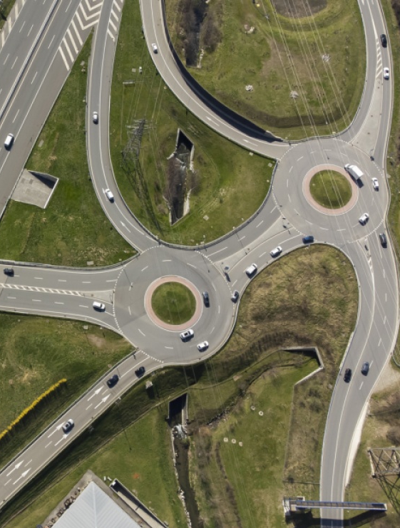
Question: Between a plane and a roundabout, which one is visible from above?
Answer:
roundabout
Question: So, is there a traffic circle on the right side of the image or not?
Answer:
Yes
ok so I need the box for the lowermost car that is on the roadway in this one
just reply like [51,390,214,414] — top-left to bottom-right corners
[61,420,75,434]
